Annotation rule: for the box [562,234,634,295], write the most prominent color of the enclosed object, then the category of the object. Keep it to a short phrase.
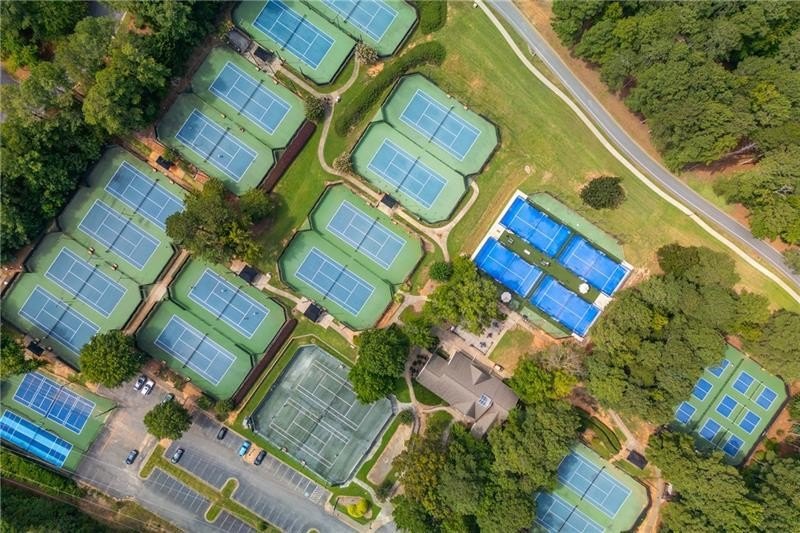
blue sports court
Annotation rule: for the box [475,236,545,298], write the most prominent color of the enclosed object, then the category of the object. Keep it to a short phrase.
blue sports court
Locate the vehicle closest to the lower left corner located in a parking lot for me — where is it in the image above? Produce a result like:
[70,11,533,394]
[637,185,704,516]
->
[126,449,139,464]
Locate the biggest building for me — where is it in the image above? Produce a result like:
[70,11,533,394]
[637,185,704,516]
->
[416,346,520,442]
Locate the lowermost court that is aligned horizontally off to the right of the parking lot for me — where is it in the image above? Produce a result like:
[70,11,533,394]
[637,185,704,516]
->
[520,483,625,533]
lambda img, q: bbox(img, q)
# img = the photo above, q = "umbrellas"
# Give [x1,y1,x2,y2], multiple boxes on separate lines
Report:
[501,292,511,302]
[579,283,589,293]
